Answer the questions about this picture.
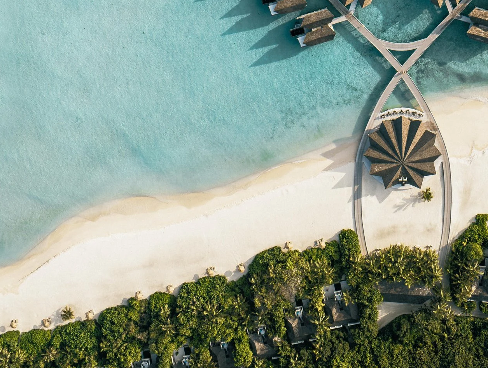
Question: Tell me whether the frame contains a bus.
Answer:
No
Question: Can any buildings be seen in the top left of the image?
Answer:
No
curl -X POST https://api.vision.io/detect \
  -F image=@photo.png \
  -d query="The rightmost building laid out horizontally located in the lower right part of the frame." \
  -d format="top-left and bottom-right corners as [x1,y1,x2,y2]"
[369,274,435,302]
